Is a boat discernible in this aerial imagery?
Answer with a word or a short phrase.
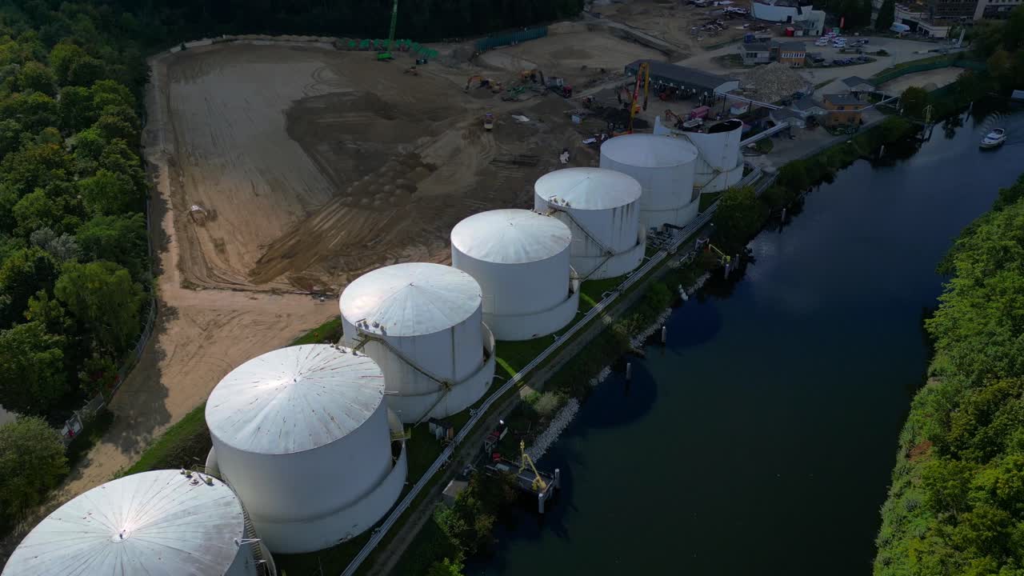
Yes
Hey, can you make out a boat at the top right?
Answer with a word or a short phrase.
Yes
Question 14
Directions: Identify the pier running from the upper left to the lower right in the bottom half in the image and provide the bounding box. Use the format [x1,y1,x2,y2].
[474,445,562,508]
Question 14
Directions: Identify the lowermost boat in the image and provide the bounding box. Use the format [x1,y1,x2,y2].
[983,124,1011,148]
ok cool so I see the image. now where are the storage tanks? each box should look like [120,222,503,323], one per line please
[600,132,703,232]
[339,262,498,423]
[653,115,752,192]
[206,336,411,558]
[534,168,654,281]
[1,459,278,576]
[449,204,586,341]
